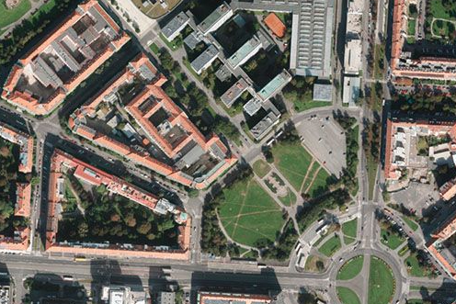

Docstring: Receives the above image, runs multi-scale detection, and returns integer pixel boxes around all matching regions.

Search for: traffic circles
[330,248,403,304]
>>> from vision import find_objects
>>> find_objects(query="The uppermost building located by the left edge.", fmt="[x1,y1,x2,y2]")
[5,0,133,116]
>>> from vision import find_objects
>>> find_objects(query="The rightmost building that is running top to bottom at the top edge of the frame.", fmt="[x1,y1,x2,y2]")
[388,0,410,72]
